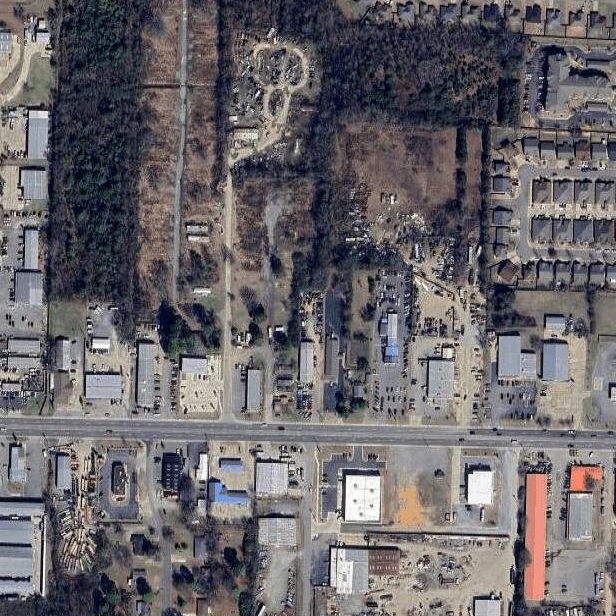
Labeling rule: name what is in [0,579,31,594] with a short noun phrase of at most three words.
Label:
building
